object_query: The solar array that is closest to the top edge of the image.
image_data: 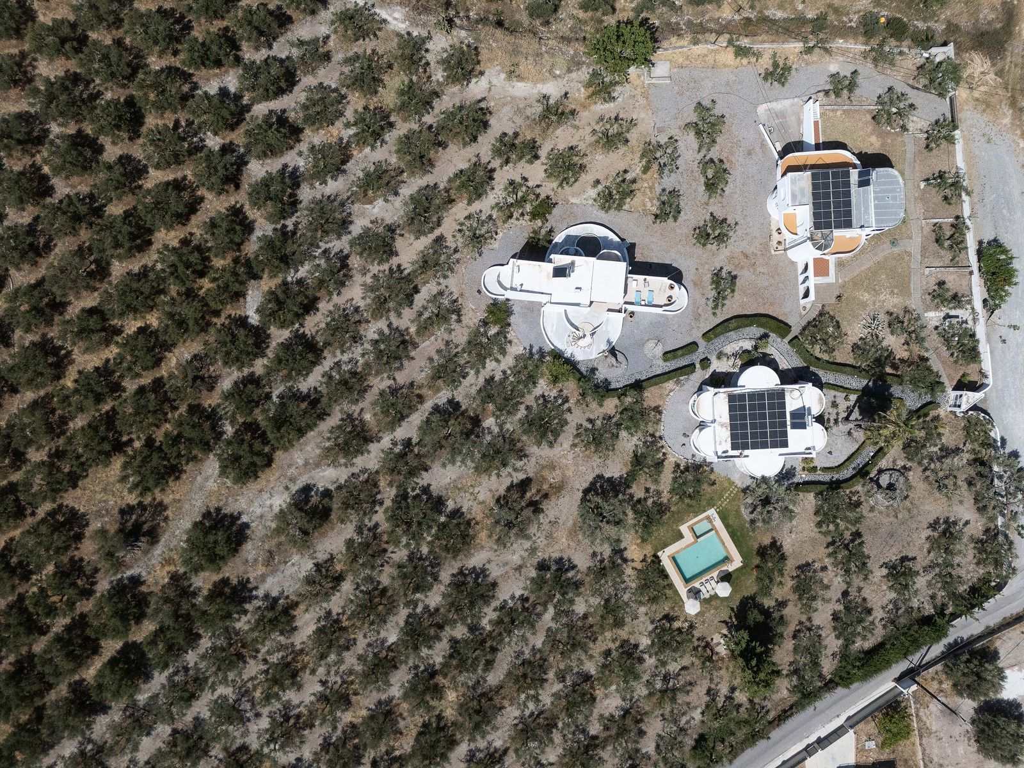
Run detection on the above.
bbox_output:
[812,169,854,229]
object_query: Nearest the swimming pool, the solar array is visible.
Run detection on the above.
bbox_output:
[728,392,788,450]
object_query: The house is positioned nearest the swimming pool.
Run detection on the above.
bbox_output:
[687,364,827,478]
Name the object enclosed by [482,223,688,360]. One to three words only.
house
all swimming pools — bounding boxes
[658,508,743,600]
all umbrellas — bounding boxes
[716,581,731,597]
[684,598,700,614]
